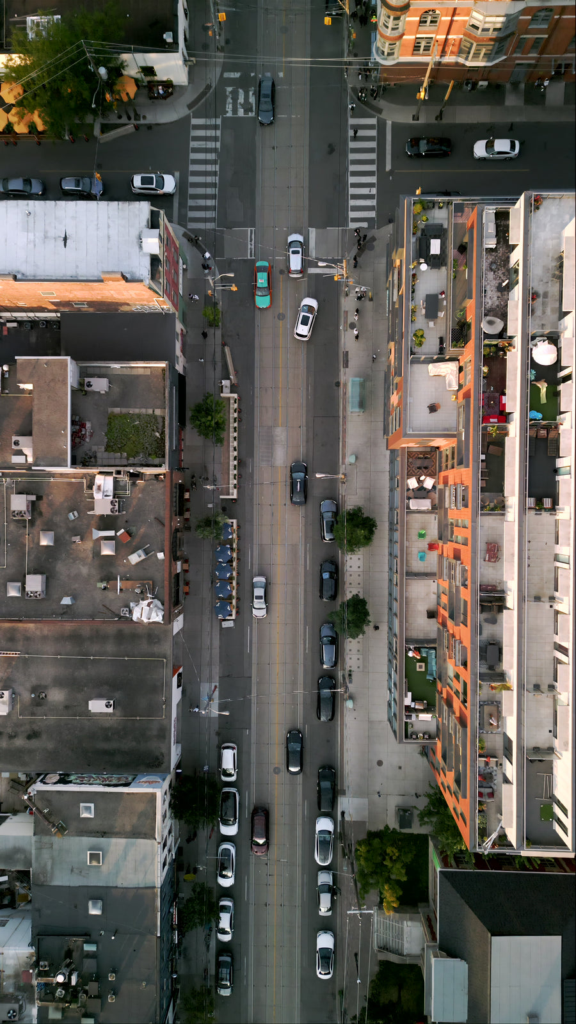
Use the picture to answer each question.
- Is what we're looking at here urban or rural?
urban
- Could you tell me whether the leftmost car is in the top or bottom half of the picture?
top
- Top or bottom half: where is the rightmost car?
top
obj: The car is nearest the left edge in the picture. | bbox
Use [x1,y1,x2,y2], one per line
[0,175,46,198]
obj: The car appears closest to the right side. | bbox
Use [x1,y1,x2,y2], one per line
[472,138,518,162]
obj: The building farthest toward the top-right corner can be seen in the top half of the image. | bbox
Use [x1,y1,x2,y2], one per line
[370,0,576,87]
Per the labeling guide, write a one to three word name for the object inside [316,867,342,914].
car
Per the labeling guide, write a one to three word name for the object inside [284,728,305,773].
car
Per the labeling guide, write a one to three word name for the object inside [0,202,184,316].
building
